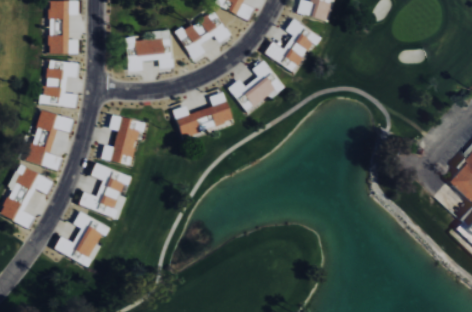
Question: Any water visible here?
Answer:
Yes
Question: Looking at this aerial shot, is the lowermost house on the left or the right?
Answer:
left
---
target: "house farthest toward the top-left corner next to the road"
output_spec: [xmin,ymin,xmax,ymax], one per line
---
[48,0,80,55]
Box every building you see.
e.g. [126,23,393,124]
[172,92,232,137]
[296,0,334,22]
[174,12,231,63]
[38,60,80,108]
[48,0,80,55]
[24,110,74,171]
[100,115,146,166]
[0,164,54,229]
[78,163,132,220]
[227,60,285,115]
[54,212,110,267]
[125,30,174,75]
[215,0,254,21]
[448,144,472,243]
[264,18,322,74]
